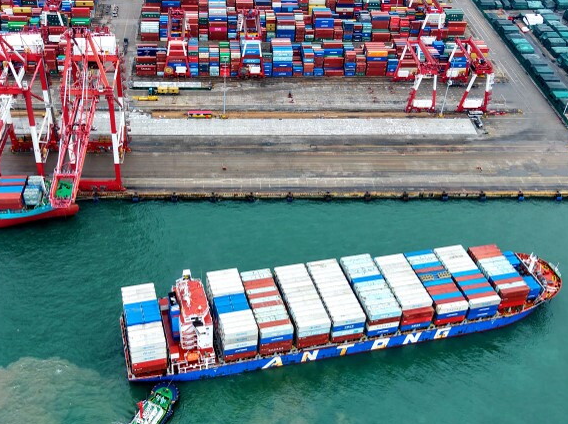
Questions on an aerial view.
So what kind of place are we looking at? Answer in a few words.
port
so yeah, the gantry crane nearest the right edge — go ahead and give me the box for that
[441,35,501,111]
